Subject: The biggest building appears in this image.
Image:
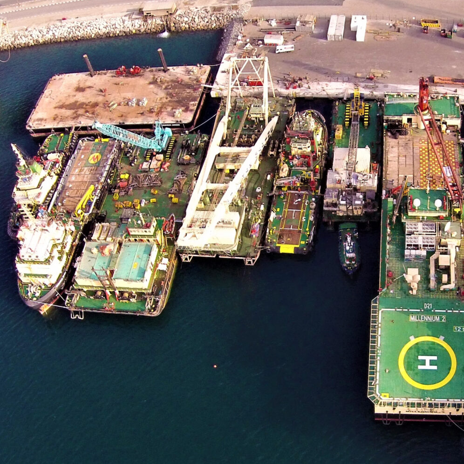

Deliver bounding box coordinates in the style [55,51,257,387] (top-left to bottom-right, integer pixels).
[143,1,177,34]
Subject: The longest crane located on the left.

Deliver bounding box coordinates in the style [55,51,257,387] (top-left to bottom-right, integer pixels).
[96,121,180,161]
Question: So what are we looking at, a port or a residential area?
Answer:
port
